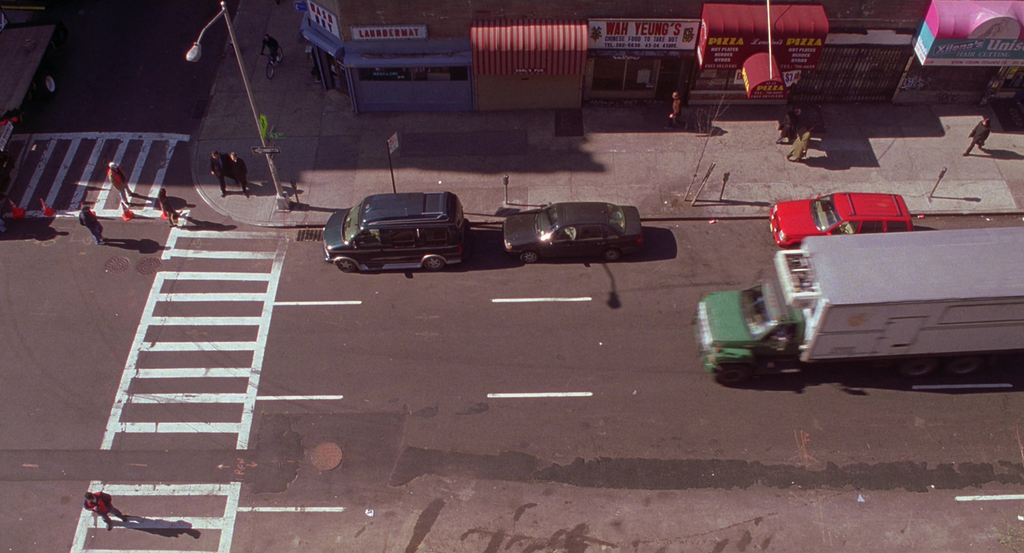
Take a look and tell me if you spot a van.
Yes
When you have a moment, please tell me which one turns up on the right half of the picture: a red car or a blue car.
red car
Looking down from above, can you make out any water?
No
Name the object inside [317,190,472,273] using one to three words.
van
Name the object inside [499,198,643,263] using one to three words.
car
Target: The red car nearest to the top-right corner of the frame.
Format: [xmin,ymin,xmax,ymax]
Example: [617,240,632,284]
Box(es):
[764,182,918,254]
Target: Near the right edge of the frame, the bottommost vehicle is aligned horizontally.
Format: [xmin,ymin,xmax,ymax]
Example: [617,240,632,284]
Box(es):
[696,225,1024,382]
